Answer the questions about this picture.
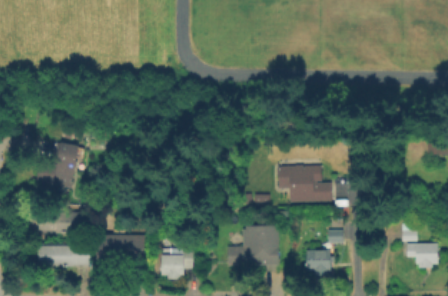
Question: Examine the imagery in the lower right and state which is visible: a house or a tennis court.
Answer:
house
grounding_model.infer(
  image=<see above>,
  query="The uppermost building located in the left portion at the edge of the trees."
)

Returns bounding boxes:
[54,142,82,189]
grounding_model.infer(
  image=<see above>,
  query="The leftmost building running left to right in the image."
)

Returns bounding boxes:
[38,246,90,266]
